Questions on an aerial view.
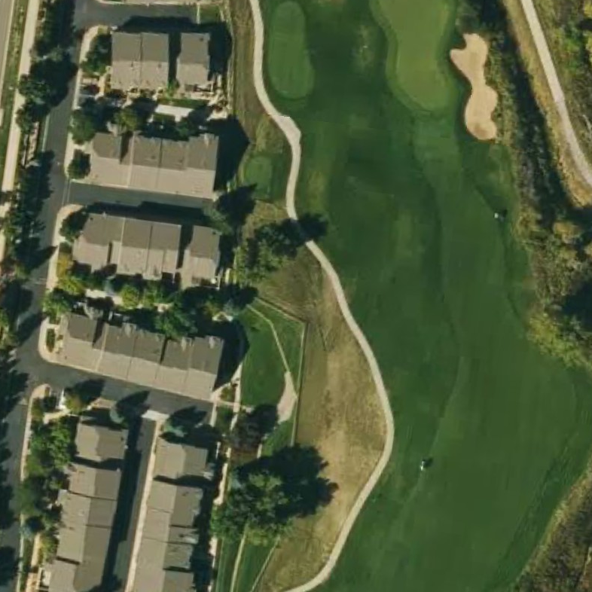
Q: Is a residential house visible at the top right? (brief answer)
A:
No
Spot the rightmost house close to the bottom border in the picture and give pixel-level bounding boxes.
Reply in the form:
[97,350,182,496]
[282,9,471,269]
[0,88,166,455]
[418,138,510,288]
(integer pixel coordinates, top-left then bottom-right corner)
[132,437,209,592]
